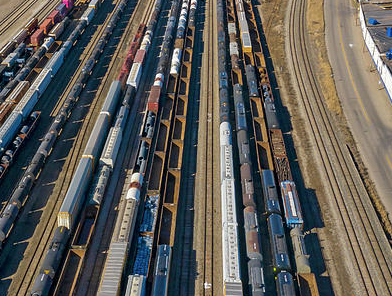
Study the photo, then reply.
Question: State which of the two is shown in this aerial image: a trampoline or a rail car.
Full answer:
There is a rail car in the scene.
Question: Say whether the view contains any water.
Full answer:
No, the picture contains no water.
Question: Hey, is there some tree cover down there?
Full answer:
No, the picture contains no tree cover.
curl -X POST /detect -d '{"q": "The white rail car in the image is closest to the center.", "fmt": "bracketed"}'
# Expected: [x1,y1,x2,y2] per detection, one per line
[219,123,231,148]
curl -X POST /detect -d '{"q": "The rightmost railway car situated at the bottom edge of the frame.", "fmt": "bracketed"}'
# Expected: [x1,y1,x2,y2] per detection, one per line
[290,228,316,285]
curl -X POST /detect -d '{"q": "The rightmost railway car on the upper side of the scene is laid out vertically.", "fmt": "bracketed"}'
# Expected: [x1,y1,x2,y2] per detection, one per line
[264,99,280,134]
